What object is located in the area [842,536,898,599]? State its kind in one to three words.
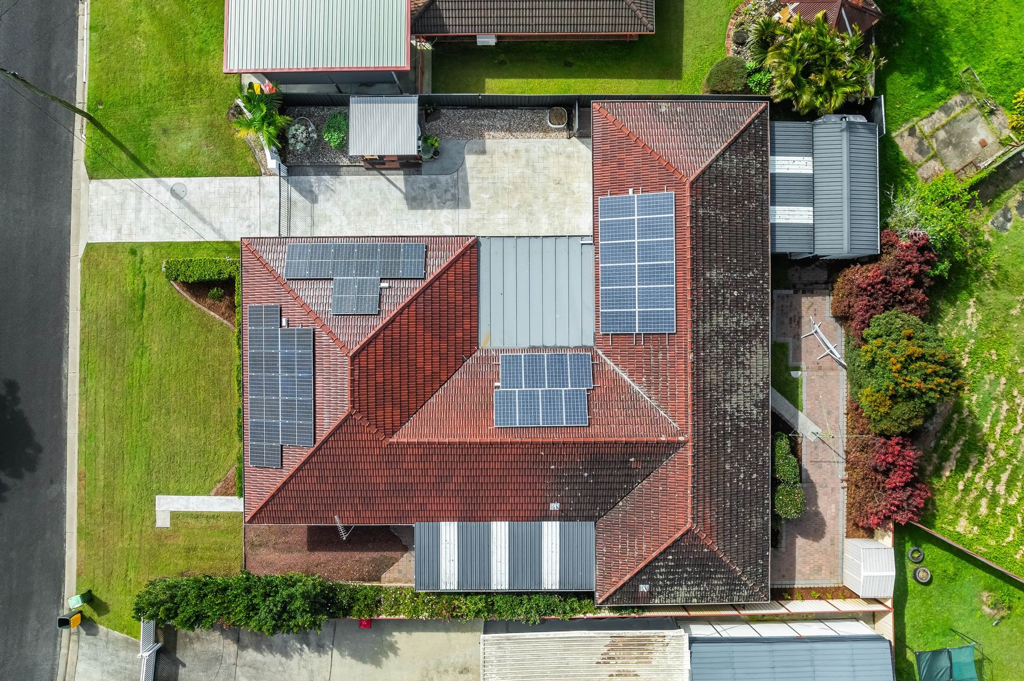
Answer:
shed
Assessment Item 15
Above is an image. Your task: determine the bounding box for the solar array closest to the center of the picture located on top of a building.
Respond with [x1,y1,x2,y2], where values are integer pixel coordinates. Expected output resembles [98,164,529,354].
[490,352,601,426]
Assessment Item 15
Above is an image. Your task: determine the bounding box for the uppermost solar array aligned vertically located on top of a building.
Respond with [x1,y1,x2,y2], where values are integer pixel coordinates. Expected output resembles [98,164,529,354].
[599,185,676,344]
